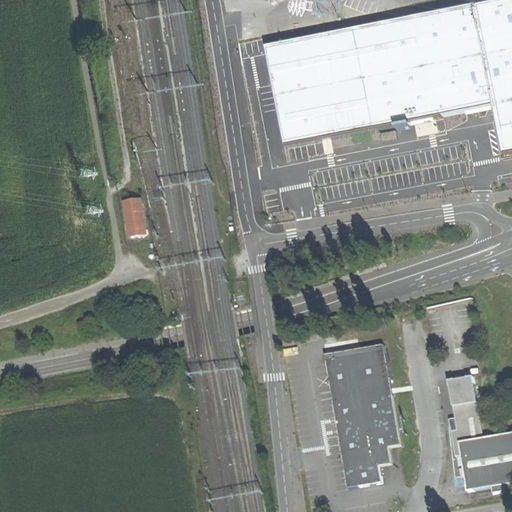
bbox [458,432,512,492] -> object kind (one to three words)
building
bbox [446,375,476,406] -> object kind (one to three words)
building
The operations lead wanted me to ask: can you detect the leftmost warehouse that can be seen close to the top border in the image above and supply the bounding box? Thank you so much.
[264,2,490,143]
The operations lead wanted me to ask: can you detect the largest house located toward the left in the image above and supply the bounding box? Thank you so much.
[122,197,148,238]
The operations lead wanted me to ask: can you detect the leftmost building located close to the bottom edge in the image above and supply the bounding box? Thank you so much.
[324,344,402,492]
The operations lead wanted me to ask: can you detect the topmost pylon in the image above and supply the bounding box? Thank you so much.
[84,164,96,181]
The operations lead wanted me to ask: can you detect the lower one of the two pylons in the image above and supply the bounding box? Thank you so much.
[89,202,102,218]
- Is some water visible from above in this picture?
No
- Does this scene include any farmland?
Yes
